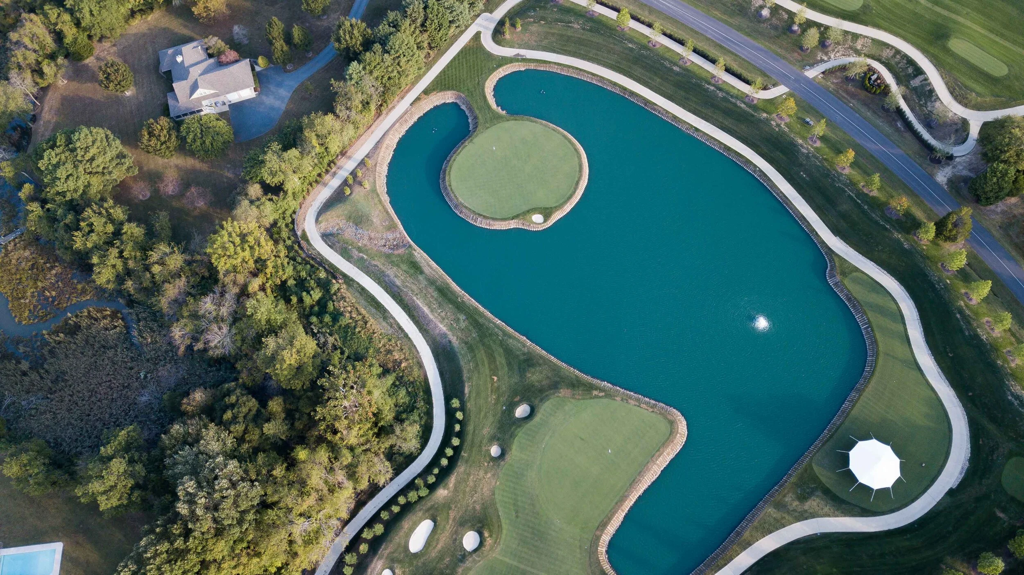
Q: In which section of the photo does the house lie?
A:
top left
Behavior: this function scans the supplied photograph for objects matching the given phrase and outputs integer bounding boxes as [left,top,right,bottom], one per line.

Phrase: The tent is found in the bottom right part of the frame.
[836,433,905,501]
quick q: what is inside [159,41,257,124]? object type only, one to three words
house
